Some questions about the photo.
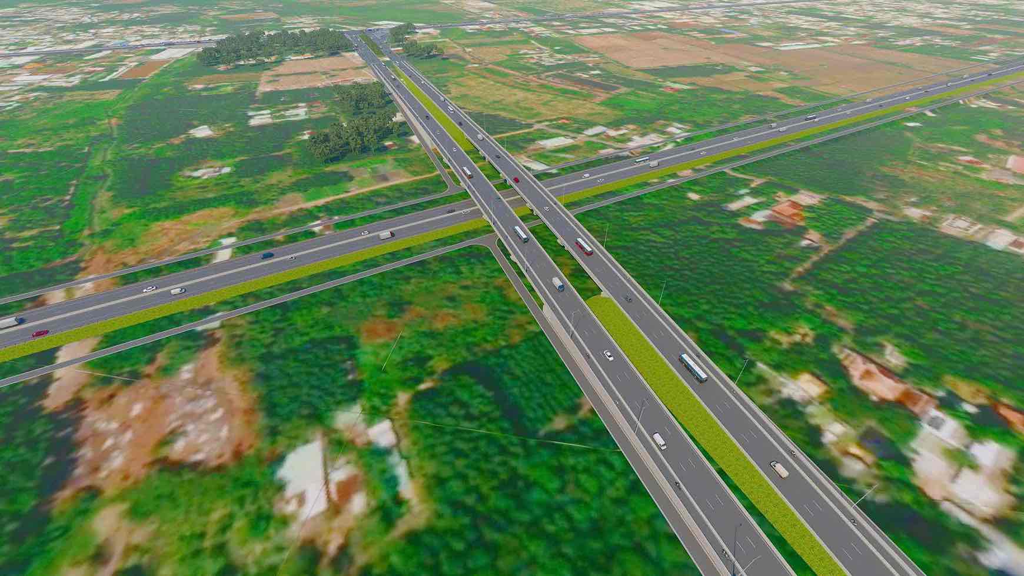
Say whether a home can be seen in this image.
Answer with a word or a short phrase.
Yes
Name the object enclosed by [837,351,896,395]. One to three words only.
building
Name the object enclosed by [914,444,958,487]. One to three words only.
house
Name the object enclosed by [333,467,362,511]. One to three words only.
shed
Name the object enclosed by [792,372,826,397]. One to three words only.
house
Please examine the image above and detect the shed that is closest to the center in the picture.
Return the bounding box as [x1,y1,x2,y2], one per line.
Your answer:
[537,137,574,150]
